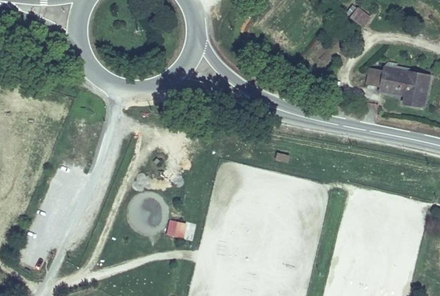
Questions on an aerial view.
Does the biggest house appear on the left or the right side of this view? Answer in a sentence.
It is on the right.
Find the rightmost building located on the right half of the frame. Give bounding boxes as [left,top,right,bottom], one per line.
[367,62,433,108]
